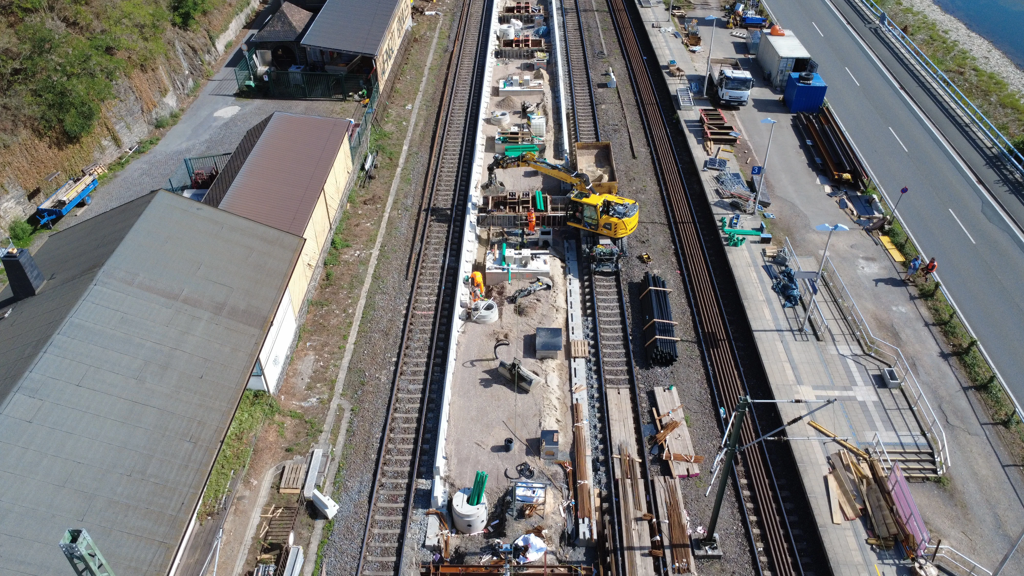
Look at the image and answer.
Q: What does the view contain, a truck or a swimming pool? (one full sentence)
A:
Looking from above, you can make out a truck.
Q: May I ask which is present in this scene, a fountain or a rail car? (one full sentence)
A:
There is a rail car in the scene.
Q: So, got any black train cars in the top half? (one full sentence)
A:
No, I can find no black train car in the top half.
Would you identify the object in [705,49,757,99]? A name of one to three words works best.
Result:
truck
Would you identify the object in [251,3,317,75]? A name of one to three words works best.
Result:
house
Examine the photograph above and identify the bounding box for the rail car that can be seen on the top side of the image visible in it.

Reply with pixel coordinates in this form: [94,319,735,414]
[574,141,619,196]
